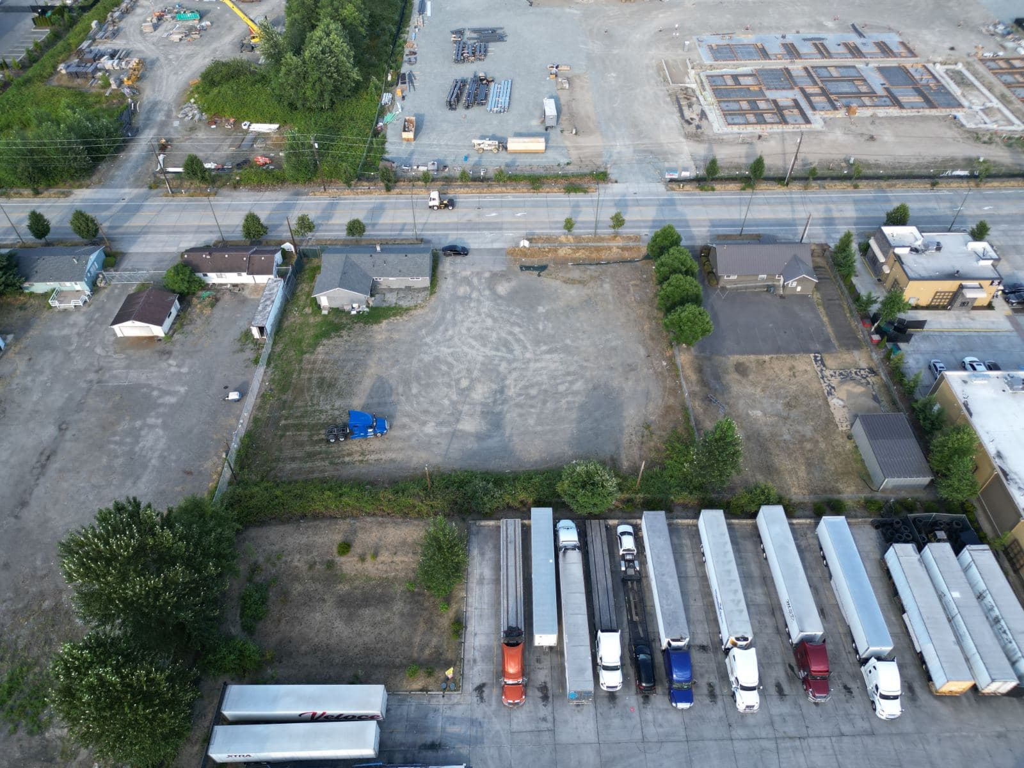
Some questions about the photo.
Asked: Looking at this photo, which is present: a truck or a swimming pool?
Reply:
truck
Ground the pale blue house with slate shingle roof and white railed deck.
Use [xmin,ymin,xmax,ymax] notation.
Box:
[0,246,108,306]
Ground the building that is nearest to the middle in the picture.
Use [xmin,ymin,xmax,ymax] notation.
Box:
[311,245,433,314]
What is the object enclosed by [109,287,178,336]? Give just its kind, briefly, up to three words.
building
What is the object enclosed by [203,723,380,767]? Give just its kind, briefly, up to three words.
trailer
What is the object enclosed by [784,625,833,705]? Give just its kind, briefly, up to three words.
truck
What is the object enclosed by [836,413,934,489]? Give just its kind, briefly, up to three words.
shed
